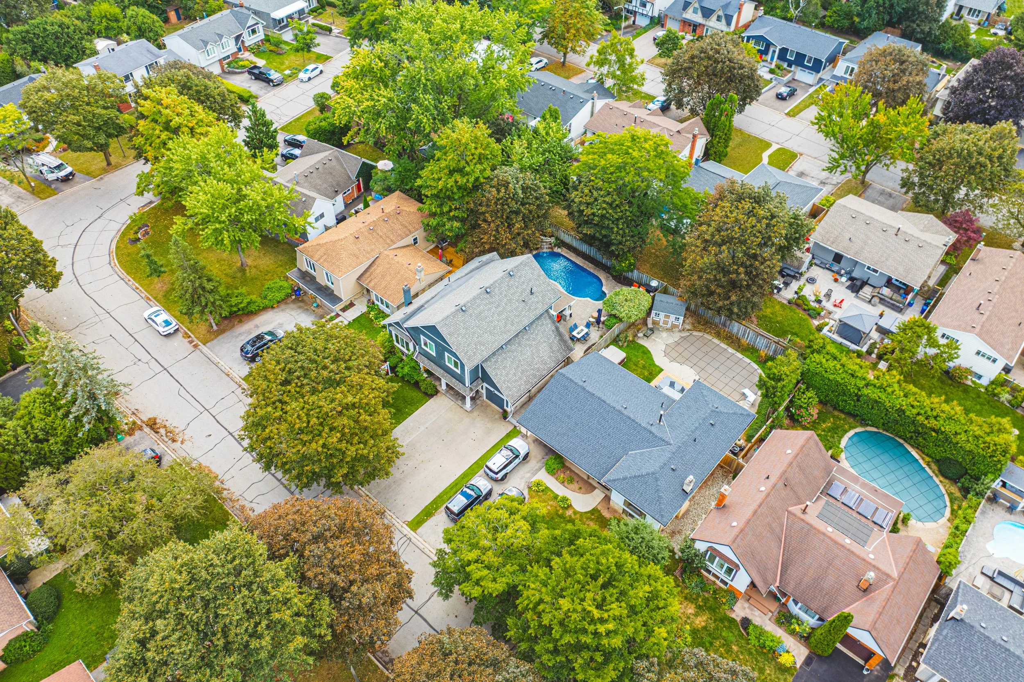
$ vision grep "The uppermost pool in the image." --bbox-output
[529,250,604,299]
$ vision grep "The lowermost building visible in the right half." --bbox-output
[911,580,1024,682]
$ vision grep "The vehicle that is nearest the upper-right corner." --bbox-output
[776,85,800,99]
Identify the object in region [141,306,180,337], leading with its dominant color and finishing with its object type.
white car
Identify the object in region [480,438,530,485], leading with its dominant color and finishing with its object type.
white car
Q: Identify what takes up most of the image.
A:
trees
